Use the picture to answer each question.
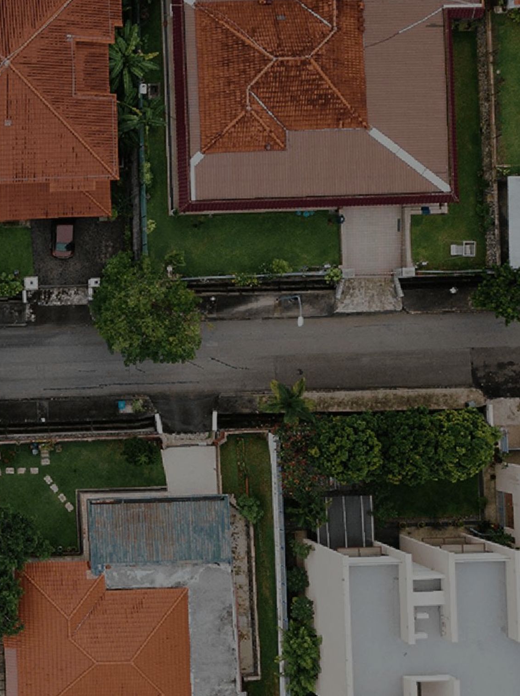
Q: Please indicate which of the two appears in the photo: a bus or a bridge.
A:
bridge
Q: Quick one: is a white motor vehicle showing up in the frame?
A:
No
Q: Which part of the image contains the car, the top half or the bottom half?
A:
top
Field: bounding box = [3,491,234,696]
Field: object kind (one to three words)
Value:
house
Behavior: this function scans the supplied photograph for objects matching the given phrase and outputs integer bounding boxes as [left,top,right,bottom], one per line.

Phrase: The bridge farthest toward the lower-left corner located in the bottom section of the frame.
[162,433,213,447]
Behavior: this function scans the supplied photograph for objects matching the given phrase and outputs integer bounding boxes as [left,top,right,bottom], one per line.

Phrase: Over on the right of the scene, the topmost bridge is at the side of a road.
[335,277,402,313]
